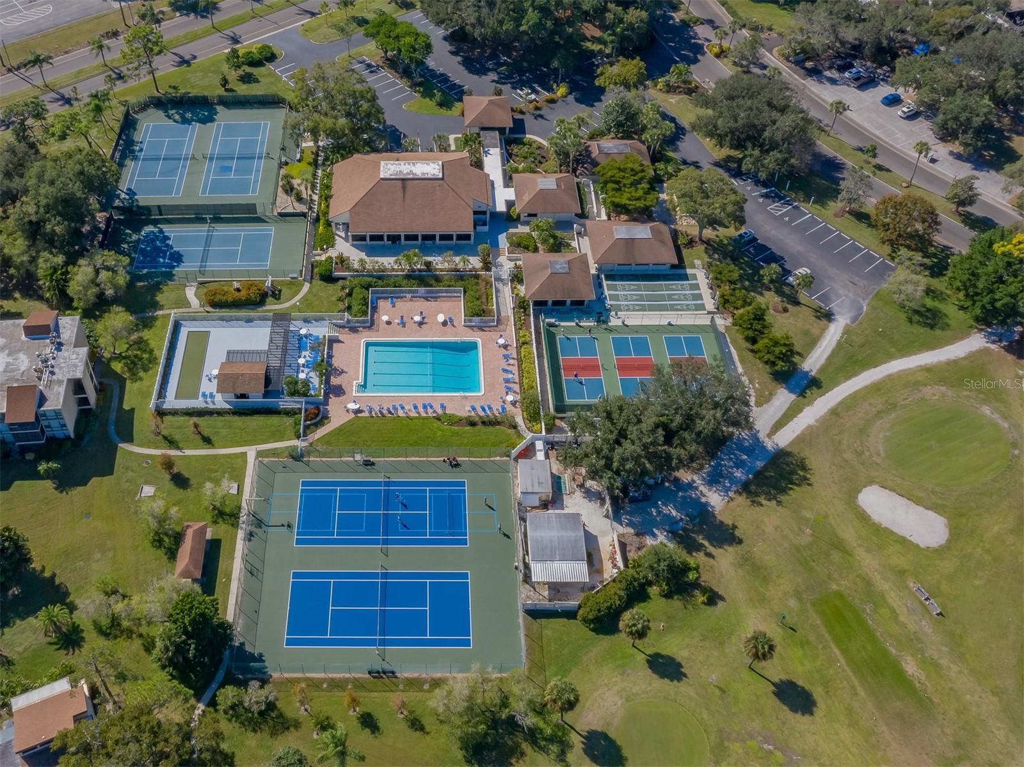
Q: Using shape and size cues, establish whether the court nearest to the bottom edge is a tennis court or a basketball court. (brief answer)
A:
tennis court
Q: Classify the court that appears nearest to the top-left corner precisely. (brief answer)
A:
tennis court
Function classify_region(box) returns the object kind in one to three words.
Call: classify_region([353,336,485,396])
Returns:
swimming pool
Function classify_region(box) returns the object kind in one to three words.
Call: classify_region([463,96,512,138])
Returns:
building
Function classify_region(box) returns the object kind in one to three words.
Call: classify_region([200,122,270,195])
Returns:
tennis court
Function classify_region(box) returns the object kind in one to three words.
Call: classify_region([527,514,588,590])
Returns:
shed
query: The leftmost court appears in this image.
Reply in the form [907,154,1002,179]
[127,123,198,196]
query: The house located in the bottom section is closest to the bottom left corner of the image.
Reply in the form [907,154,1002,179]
[11,678,96,760]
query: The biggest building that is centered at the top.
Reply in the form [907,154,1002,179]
[329,153,492,246]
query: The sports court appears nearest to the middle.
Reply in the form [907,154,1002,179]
[558,336,605,400]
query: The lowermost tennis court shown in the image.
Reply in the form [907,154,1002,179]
[284,561,472,655]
